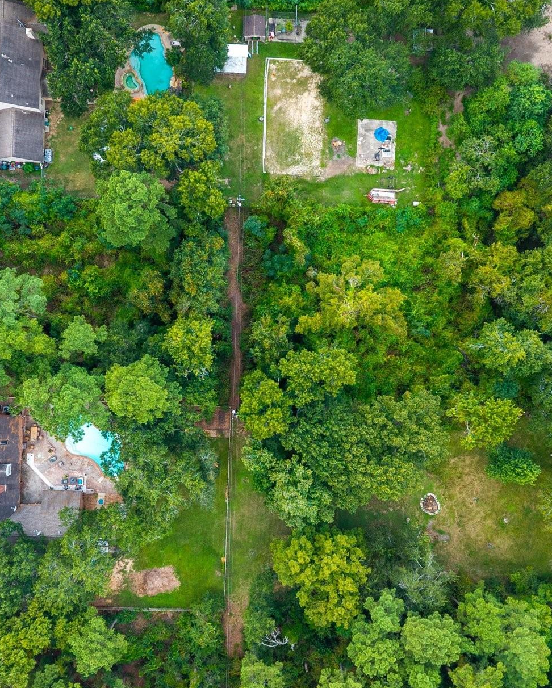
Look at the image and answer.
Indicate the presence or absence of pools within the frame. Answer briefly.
Yes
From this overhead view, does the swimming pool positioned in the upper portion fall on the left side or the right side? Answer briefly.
left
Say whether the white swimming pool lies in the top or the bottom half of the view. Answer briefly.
bottom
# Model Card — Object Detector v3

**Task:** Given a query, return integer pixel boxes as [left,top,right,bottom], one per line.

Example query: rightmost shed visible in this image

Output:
[243,15,266,61]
